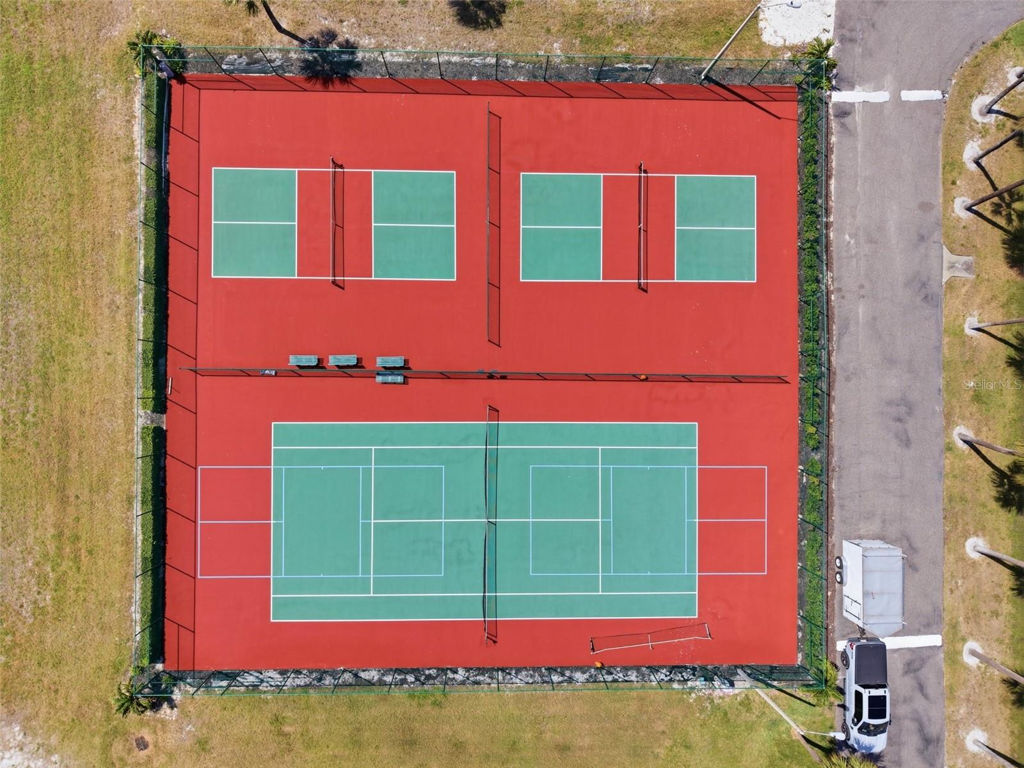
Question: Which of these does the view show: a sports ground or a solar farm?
sports ground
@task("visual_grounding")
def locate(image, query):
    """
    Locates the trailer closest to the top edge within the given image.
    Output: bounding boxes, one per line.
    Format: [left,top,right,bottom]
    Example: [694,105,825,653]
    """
[835,539,906,638]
